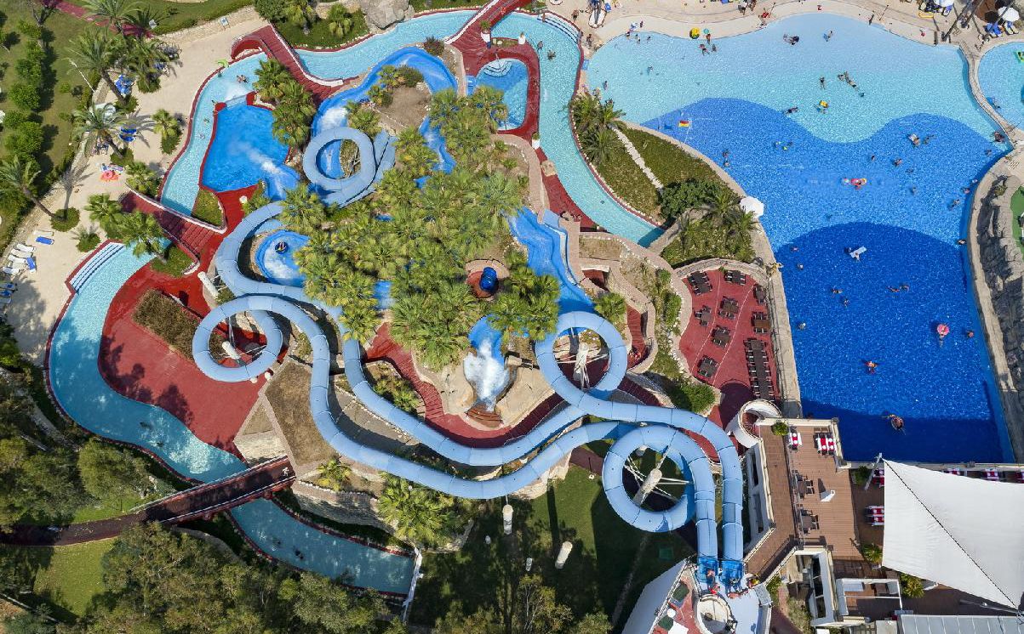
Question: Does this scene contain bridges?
Yes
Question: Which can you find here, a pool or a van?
pool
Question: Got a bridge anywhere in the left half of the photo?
Yes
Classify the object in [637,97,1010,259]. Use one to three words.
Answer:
swimming pool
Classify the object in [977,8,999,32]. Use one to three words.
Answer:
umbrella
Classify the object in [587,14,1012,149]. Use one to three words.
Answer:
swimming pool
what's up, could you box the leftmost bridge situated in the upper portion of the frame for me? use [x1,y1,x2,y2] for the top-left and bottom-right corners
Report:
[121,179,227,272]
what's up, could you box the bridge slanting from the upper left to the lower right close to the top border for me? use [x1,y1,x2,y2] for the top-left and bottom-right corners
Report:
[230,22,343,112]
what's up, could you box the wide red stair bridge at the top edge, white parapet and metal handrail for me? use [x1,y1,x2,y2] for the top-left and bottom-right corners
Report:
[444,0,532,47]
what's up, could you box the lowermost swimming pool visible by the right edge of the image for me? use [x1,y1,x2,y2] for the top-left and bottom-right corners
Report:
[775,222,1002,466]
